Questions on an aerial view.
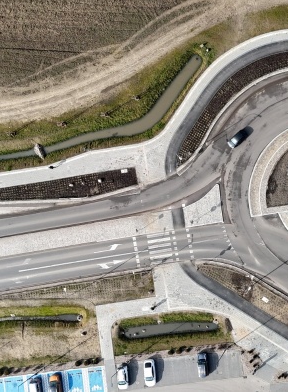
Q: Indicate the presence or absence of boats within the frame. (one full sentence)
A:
No, the photo shows no boat.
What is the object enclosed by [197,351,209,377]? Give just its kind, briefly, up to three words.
vehicle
